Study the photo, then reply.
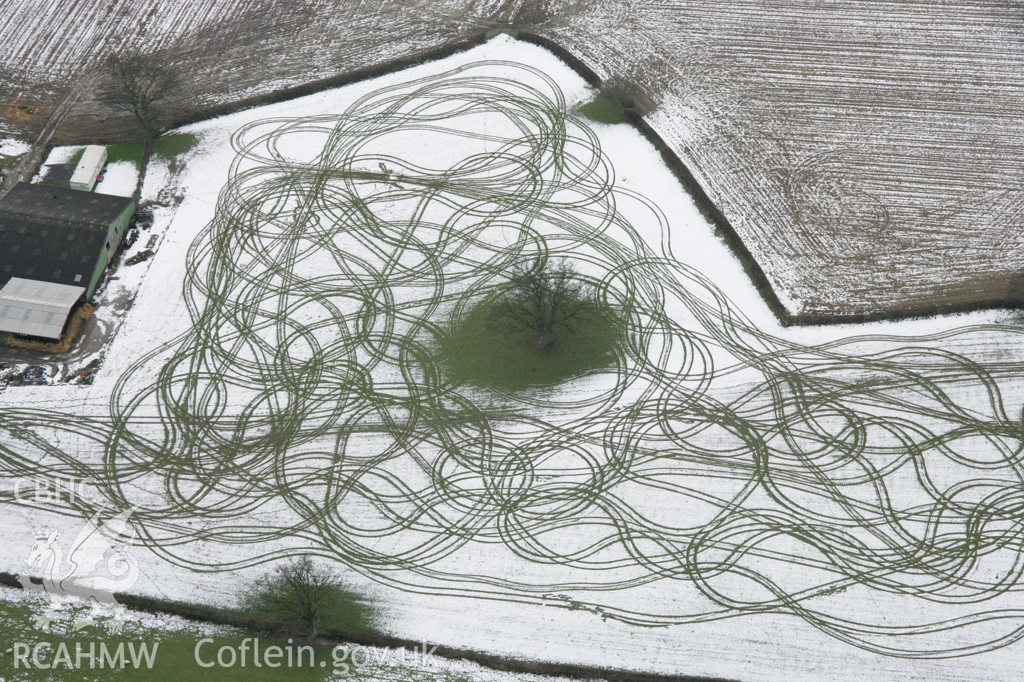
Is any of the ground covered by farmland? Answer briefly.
Yes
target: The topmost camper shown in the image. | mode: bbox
[70,146,107,193]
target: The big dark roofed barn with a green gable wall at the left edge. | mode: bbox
[0,187,136,299]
